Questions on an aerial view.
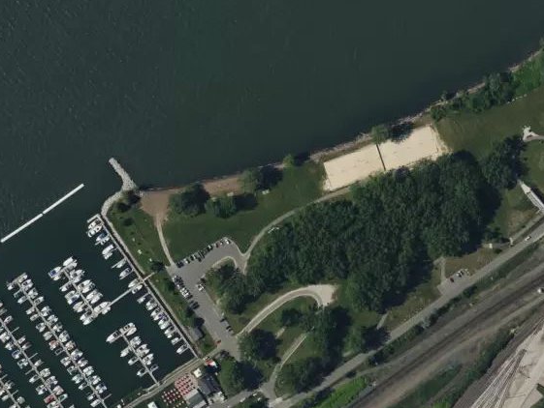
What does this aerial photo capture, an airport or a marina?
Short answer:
marina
